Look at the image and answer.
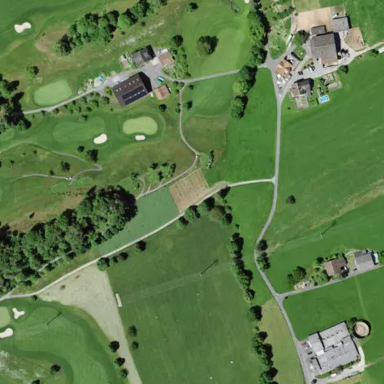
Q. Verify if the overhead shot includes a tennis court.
No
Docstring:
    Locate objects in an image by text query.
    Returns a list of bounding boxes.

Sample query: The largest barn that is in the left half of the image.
[112,73,149,107]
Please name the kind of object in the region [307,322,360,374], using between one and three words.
building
